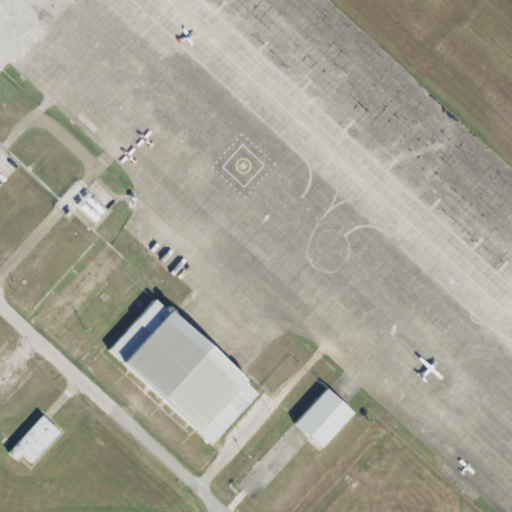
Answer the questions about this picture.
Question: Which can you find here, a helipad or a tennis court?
helipad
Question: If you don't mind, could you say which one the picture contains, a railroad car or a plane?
plane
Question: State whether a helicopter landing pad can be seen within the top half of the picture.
Yes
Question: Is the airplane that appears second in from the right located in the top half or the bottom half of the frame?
bottom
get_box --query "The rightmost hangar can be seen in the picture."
[292,388,356,448]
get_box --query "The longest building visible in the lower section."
[107,298,258,445]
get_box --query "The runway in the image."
[200,0,512,284]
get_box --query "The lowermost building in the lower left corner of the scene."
[7,414,61,464]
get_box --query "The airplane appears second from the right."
[418,358,444,382]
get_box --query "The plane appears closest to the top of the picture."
[179,28,194,46]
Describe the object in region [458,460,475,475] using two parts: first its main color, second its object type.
white airplane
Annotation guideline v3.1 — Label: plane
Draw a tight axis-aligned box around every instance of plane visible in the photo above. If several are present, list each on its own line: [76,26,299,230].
[122,148,136,164]
[138,132,153,147]
[458,460,475,475]
[418,358,444,382]
[179,28,194,46]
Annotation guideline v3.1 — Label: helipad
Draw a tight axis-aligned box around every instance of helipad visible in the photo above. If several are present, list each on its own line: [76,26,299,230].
[212,133,276,198]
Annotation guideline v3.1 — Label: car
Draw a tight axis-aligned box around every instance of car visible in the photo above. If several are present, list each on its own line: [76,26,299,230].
[8,158,18,168]
[106,200,116,209]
